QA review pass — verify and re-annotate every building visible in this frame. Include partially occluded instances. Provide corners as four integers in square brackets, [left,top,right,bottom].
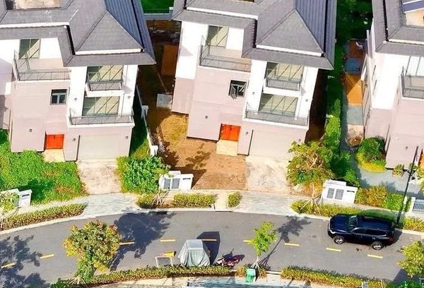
[360,0,424,169]
[0,0,157,163]
[172,0,338,159]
